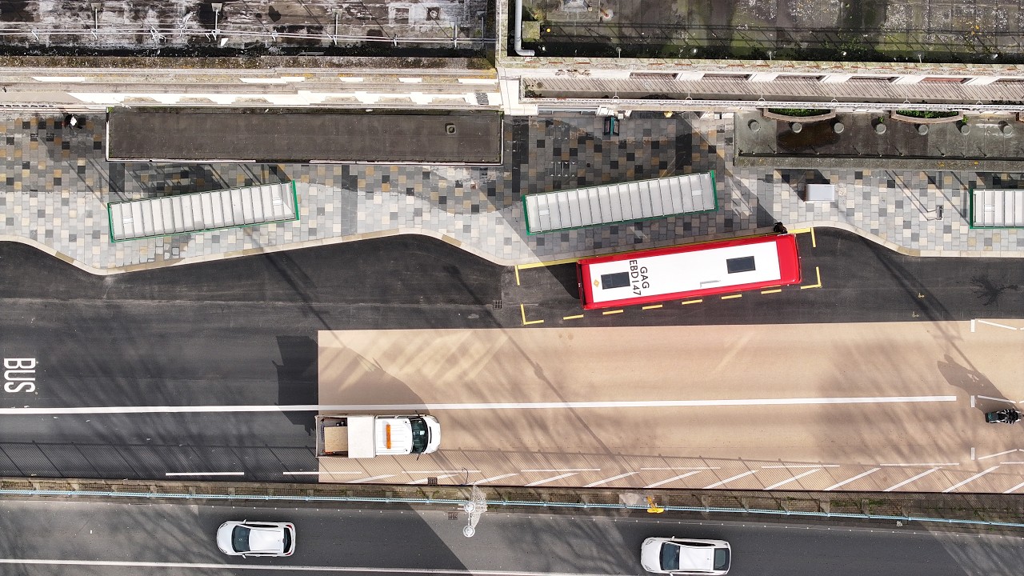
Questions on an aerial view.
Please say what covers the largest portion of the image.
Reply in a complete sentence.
The scene is dominated by paved ground.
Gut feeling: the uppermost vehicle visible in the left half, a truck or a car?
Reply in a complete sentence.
The uppermost vehicle visible in the left half appears to be a truck.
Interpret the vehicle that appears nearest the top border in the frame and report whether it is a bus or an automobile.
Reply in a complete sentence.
I'd say the vehicle that appears nearest the top border is a bus.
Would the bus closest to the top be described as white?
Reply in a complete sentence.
Yes, the bus closest to the top appears white.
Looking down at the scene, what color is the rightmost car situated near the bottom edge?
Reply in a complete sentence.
The rightmost car situated near the bottom edge is white.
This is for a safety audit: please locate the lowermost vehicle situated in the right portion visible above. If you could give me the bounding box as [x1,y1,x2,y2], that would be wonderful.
[640,535,732,576]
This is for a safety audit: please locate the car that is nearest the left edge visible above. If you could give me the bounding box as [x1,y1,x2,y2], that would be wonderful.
[216,520,297,561]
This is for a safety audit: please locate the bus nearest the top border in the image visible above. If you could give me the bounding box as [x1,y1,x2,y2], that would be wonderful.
[571,232,803,310]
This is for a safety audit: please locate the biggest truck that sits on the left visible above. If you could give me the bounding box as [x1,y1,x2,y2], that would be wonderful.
[315,409,441,463]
